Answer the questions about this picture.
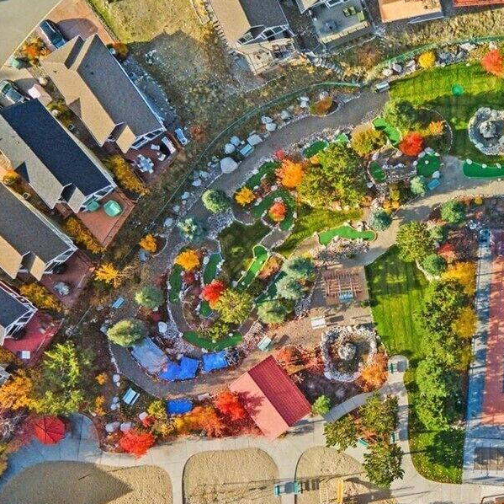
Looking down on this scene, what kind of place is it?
residential area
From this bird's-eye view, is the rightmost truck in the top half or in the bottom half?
top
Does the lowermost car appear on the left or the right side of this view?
left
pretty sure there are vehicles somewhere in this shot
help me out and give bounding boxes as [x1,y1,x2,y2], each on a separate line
[32,14,67,53]
[0,74,26,104]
